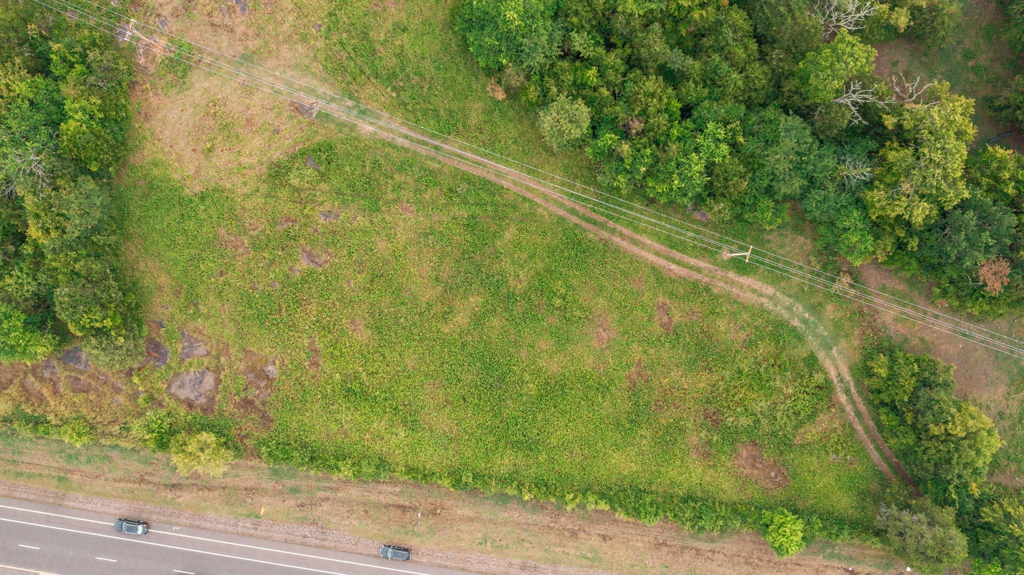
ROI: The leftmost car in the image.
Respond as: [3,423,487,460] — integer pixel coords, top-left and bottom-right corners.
[115,517,149,535]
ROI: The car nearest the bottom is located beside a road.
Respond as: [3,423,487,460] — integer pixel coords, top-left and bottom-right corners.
[380,543,411,561]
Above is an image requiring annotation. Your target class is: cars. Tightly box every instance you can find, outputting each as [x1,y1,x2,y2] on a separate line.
[115,517,149,535]
[380,543,411,561]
